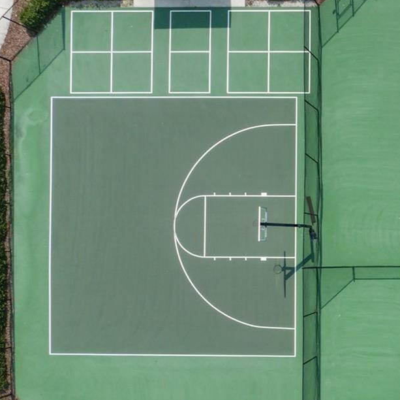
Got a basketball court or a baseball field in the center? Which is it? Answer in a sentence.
Looking in the center, you will find a basketball court.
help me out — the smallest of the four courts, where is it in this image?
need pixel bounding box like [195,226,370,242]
[168,10,211,94]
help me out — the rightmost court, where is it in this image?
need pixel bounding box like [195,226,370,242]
[227,10,310,94]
